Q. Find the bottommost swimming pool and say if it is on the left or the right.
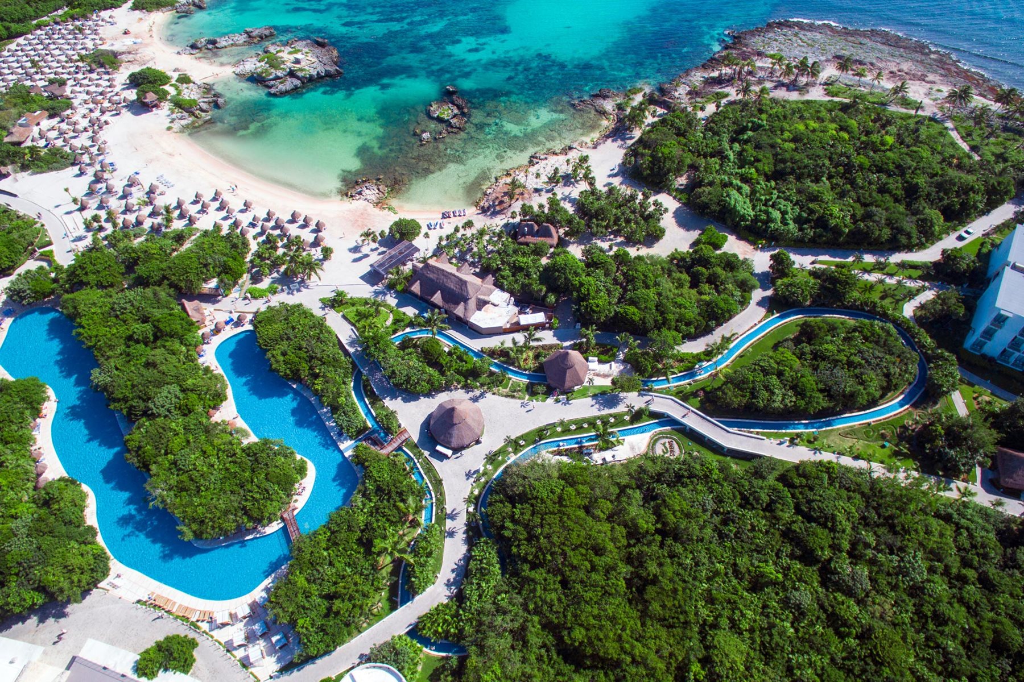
left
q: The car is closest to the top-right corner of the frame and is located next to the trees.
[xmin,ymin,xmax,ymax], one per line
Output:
[960,227,974,240]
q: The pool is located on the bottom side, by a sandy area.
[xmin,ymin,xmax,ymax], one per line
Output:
[0,308,357,599]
